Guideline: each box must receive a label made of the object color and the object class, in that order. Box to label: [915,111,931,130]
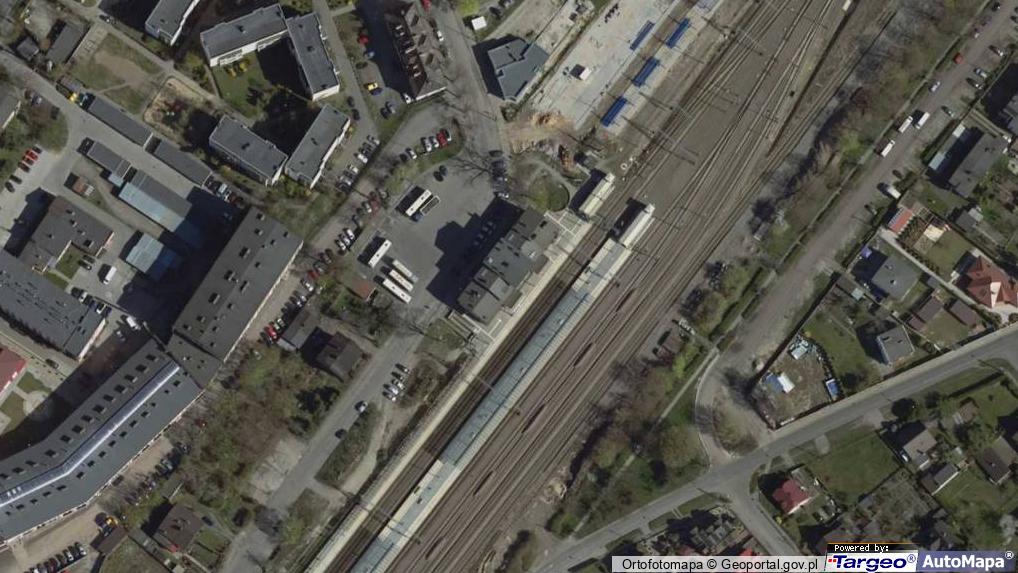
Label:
white vehicle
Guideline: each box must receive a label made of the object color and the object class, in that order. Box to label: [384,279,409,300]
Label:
white bus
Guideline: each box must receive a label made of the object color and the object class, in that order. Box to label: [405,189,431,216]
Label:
white bus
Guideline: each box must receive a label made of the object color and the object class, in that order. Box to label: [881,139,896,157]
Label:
white vehicle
